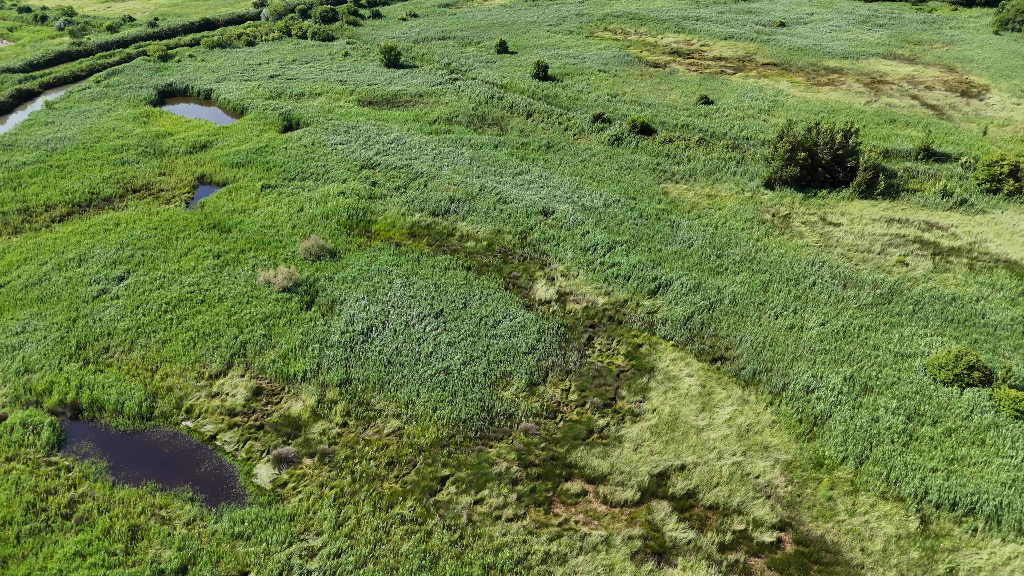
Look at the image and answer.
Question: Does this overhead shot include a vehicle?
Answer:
No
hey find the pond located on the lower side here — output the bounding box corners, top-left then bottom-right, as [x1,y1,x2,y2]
[59,419,253,514]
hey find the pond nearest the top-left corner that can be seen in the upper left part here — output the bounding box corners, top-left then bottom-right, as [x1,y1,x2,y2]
[160,96,243,132]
